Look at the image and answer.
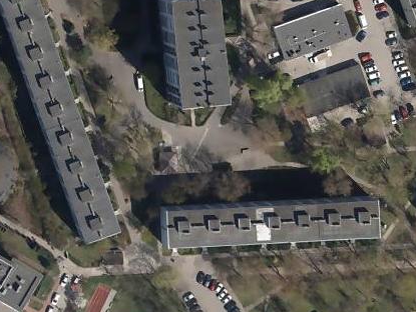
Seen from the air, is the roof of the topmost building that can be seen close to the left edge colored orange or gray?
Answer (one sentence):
The roof of the topmost building that can be seen close to the left edge looks gray in the image.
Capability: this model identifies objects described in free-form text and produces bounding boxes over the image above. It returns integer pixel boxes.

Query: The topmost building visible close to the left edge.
[0,0,121,243]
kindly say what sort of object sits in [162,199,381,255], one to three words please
building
